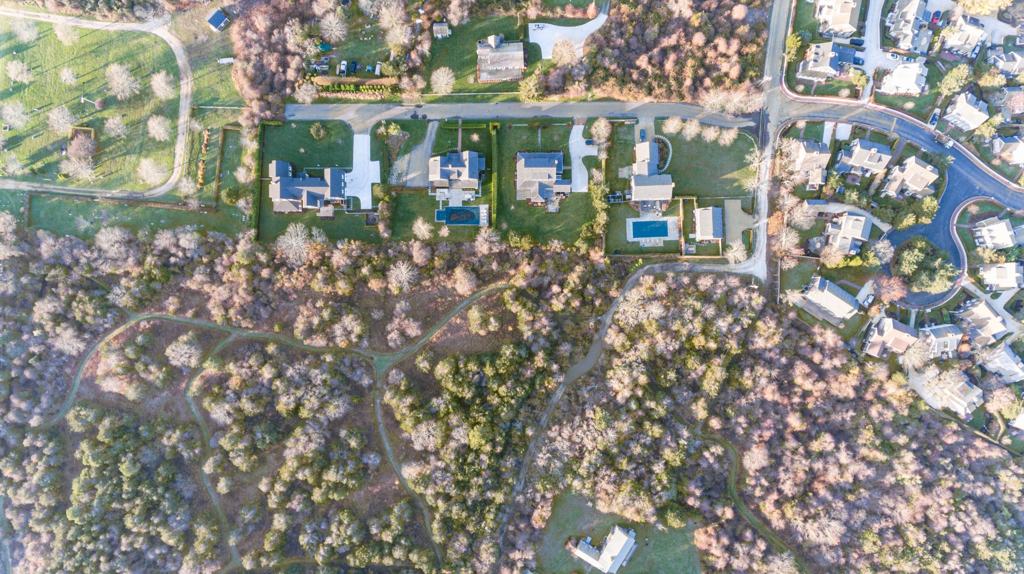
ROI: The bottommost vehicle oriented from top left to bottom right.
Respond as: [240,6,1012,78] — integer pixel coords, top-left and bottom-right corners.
[935,132,954,147]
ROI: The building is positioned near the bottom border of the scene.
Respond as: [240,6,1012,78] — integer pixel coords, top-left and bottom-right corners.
[570,523,641,574]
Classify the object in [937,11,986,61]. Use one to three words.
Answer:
house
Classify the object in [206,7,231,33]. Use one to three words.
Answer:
shed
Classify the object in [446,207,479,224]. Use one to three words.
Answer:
swimming pool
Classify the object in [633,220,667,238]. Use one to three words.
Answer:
swimming pool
